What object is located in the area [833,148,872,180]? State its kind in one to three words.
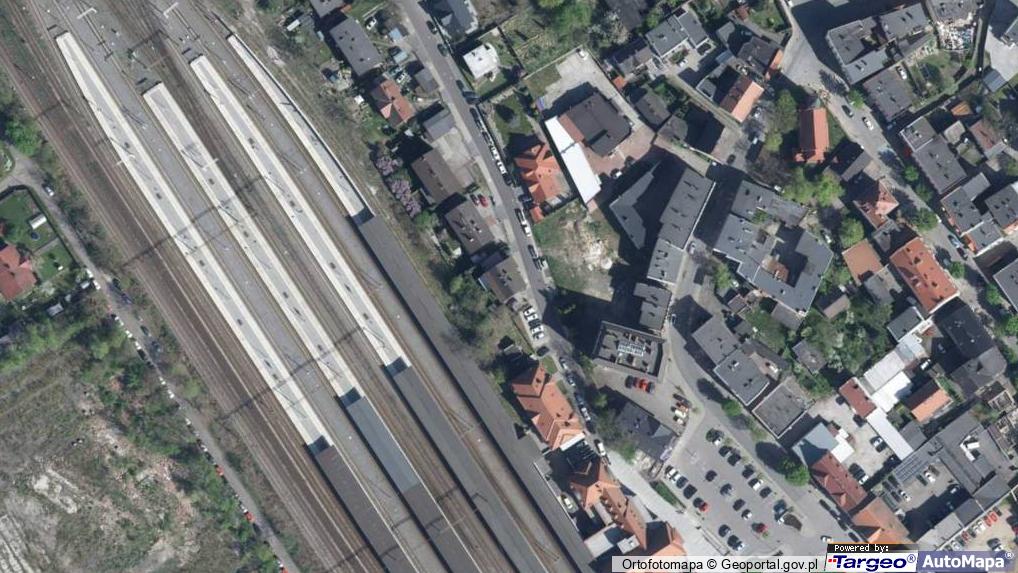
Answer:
house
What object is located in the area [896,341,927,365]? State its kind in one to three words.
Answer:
greenhouse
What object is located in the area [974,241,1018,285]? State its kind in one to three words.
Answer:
shed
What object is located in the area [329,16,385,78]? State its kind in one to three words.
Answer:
building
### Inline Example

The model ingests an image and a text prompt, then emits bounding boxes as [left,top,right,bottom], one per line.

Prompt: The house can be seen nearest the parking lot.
[616,399,681,464]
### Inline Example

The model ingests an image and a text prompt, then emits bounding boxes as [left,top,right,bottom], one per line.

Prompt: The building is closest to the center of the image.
[480,258,528,303]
